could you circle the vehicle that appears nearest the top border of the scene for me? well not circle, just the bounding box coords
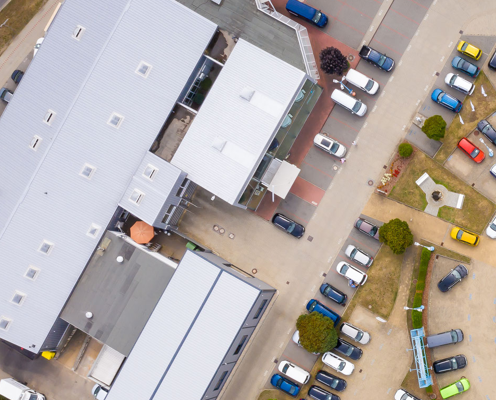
[282,0,330,26]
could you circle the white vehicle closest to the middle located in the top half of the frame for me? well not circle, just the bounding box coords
[312,133,349,159]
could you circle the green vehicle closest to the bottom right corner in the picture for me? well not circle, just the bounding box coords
[440,379,471,400]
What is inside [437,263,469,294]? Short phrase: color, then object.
gray car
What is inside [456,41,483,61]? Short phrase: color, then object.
yellow car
